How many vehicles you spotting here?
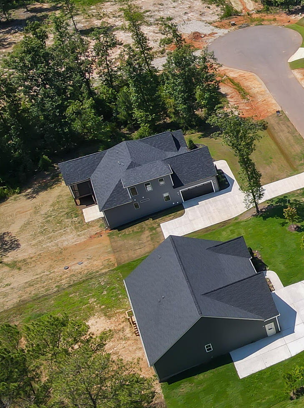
0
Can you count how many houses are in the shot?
2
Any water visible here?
No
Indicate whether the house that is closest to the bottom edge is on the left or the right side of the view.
right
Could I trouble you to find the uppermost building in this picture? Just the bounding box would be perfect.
[56,130,221,229]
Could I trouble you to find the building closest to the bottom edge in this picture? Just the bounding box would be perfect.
[124,234,283,382]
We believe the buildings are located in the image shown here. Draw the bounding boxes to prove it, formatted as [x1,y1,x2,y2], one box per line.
[56,130,221,229]
[124,234,283,382]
